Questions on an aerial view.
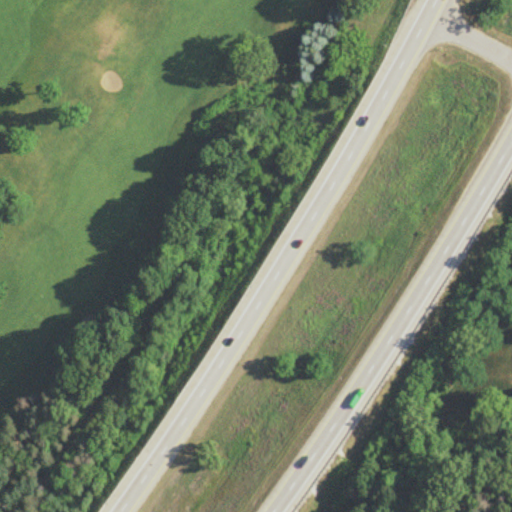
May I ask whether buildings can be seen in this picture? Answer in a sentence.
No, this view has no building in it.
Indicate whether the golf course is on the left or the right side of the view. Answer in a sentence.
You can find the golf course on the left side of the picture.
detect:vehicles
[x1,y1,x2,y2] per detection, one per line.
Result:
[298,456,308,467]
[349,388,365,409]
[360,115,368,126]
[225,336,234,346]
[295,238,304,249]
